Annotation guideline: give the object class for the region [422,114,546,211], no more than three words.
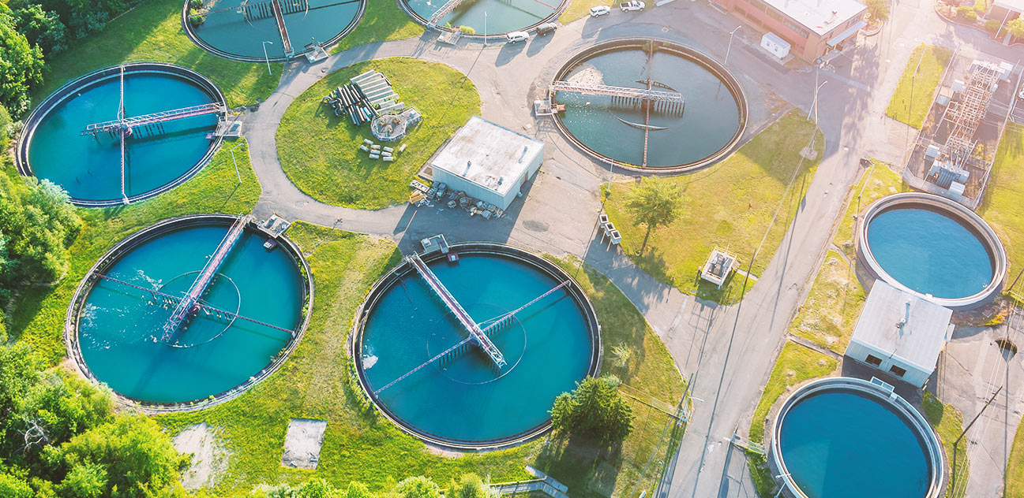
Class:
building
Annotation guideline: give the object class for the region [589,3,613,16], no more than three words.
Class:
vehicle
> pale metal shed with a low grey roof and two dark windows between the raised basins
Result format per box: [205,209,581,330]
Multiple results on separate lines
[844,279,954,387]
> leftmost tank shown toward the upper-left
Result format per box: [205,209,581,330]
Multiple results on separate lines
[19,62,241,207]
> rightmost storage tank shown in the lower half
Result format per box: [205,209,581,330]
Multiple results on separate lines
[354,229,599,450]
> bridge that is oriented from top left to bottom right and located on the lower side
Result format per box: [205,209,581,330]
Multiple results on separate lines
[406,251,506,370]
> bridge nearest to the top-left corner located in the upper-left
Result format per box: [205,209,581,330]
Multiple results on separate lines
[82,98,226,133]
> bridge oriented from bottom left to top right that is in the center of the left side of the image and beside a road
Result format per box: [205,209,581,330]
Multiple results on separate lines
[161,213,253,341]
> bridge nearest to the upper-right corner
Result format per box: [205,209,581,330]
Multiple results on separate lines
[548,78,686,105]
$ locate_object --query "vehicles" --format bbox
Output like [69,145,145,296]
[589,3,613,16]
[619,0,646,11]
[507,30,531,42]
[534,21,558,34]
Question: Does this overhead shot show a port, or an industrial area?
industrial area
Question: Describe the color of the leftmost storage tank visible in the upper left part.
blue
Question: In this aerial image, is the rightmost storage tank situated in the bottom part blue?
Yes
